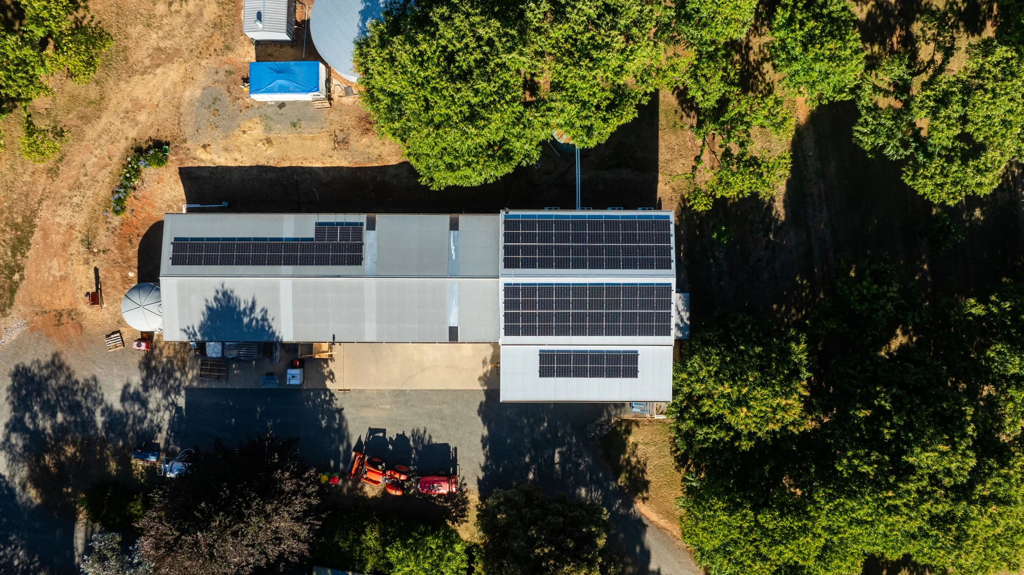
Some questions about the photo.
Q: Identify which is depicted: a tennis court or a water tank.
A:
water tank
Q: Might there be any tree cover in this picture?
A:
Yes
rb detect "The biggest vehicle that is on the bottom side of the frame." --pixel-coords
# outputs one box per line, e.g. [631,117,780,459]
[347,448,410,493]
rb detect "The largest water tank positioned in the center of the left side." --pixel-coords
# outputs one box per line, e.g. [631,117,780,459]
[122,287,162,327]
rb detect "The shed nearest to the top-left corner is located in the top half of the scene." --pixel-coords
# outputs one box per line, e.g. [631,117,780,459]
[243,0,296,46]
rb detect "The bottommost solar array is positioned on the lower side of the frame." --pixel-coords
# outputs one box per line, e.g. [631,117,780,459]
[537,354,640,378]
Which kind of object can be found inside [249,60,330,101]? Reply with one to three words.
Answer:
building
